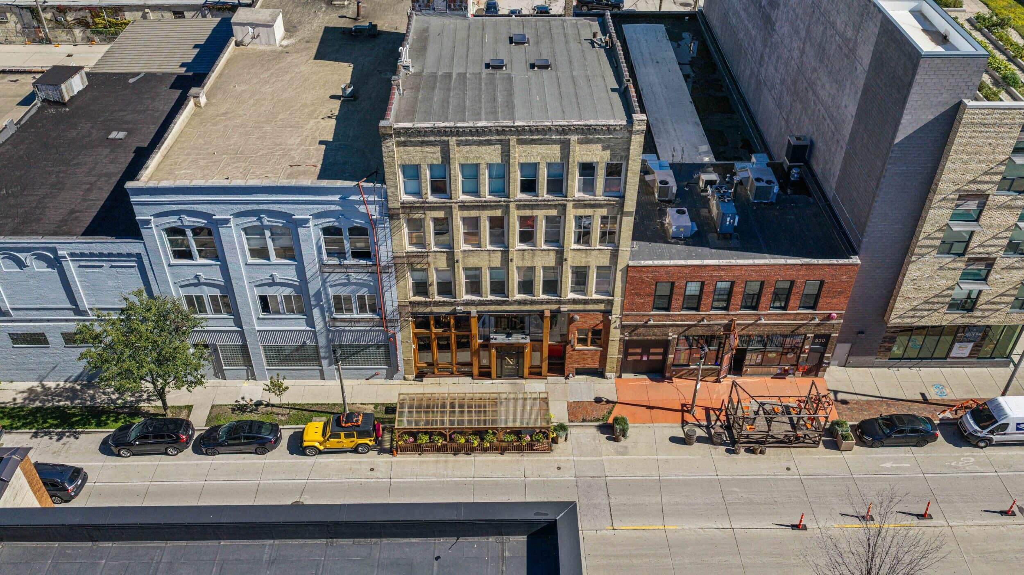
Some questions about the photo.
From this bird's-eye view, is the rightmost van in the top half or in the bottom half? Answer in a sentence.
The bottom half of the photo is where the rightmost van is.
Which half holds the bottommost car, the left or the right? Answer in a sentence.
It is on the left.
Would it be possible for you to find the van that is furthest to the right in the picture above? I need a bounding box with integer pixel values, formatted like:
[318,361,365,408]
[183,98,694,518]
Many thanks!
[953,394,1024,449]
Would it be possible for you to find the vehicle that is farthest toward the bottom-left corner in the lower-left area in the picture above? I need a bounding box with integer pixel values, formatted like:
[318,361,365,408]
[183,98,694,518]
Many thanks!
[27,464,91,507]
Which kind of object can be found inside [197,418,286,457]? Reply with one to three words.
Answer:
car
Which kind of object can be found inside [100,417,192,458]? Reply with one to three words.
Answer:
car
